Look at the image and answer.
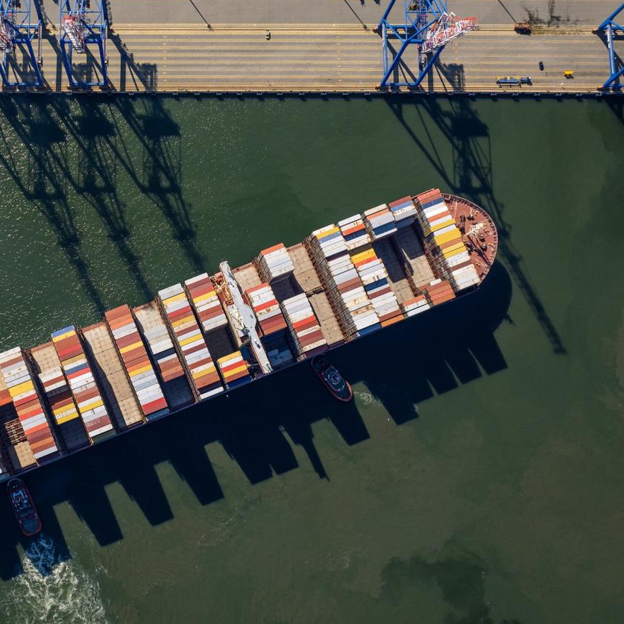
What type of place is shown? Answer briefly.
port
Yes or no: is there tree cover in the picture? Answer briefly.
No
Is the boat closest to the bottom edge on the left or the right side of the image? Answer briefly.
left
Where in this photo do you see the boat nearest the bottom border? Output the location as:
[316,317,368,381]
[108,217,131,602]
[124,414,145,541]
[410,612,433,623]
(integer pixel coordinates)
[8,477,41,539]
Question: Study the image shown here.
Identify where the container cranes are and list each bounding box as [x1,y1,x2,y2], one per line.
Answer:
[0,0,53,87]
[590,4,624,88]
[53,0,116,87]
[371,0,487,88]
